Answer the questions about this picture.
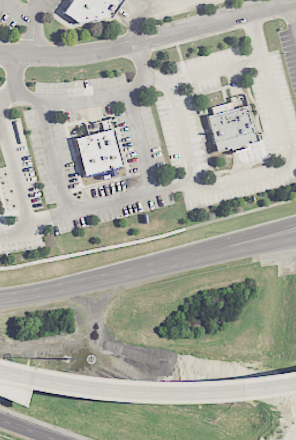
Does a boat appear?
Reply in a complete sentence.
No, there is no boat in the image.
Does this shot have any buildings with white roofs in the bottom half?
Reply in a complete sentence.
No, looking in the bottom half, there is no building with a white roof.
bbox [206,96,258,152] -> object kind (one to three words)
building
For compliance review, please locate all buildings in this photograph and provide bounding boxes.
[206,96,258,152]
[74,130,124,180]
[62,0,124,24]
